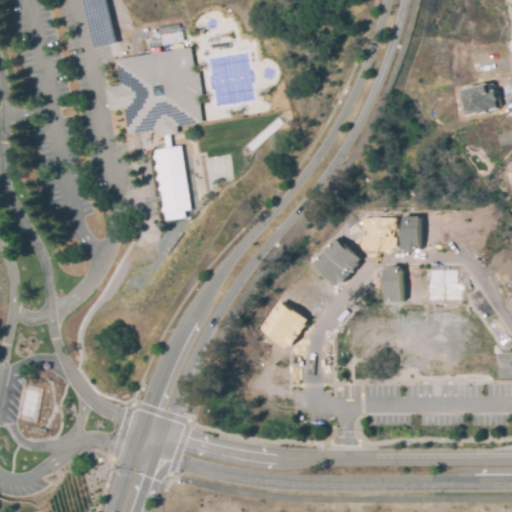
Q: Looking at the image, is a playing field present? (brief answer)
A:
Yes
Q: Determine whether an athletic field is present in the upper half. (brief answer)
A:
Yes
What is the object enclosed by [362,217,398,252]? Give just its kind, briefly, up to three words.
house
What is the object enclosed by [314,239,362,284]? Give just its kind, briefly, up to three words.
house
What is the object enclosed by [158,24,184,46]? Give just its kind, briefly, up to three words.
building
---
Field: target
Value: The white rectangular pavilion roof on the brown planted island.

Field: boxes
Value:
[22,386,43,422]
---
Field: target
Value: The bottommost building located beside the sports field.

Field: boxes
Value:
[155,134,192,222]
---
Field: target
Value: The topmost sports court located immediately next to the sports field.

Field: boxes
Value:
[210,54,254,106]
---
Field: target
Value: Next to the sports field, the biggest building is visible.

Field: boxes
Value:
[106,48,202,137]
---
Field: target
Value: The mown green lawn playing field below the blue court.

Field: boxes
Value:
[200,112,281,179]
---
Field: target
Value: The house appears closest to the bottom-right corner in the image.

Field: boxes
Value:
[382,266,404,302]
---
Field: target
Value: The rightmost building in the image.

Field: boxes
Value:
[462,84,497,114]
